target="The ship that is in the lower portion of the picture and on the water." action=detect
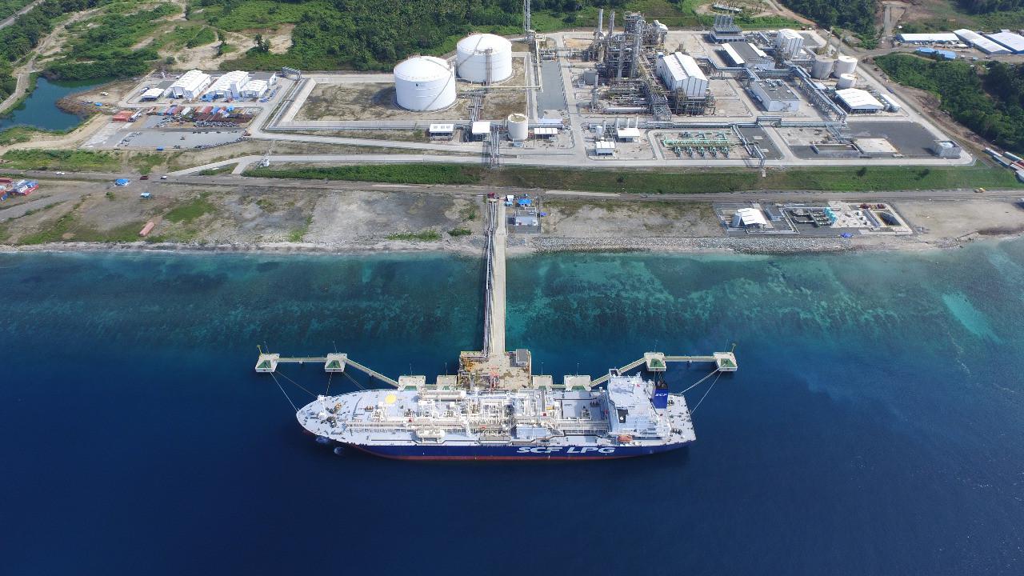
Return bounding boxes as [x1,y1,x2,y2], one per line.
[294,367,695,460]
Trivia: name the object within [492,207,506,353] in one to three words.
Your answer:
pier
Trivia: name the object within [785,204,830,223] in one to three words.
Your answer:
building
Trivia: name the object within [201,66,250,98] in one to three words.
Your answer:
building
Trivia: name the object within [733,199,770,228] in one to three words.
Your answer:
shed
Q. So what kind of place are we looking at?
port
